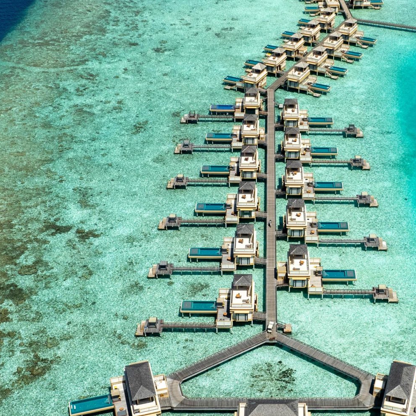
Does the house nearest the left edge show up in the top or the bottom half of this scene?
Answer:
bottom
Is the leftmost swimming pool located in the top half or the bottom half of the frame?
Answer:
bottom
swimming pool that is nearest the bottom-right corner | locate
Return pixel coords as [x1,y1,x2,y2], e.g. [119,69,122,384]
[322,269,357,282]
